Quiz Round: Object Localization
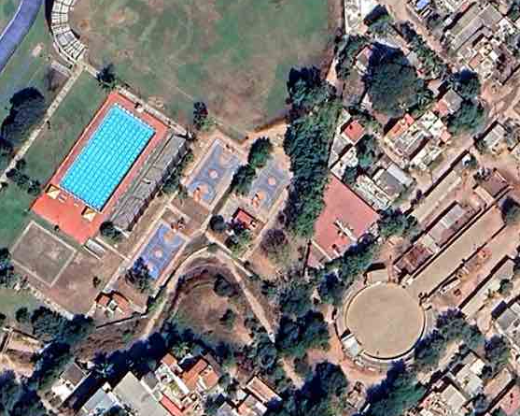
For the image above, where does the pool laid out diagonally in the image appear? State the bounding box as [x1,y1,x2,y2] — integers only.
[30,90,167,244]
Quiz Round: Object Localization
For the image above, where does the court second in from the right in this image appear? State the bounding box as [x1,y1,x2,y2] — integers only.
[237,147,298,223]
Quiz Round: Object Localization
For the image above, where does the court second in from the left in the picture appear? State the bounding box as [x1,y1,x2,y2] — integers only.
[126,213,194,289]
